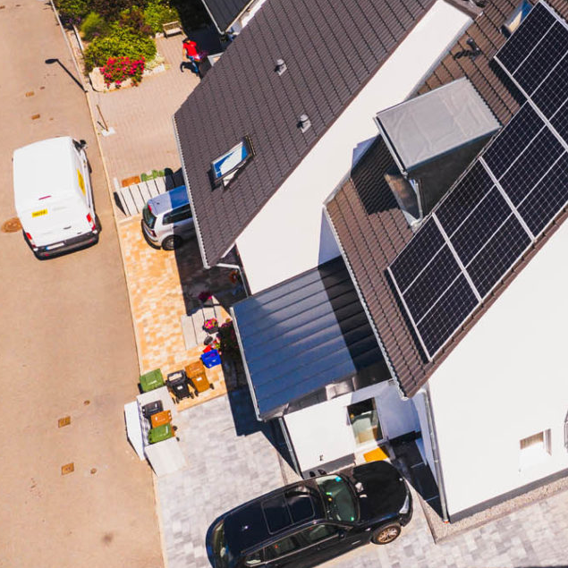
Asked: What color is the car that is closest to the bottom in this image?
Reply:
black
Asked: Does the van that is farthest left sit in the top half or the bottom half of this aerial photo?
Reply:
top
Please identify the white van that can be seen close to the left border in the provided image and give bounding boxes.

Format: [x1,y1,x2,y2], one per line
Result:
[7,130,96,250]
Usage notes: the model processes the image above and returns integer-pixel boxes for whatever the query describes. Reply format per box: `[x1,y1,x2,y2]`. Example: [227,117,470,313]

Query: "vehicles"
[132,184,197,249]
[207,451,410,568]
[7,130,96,250]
